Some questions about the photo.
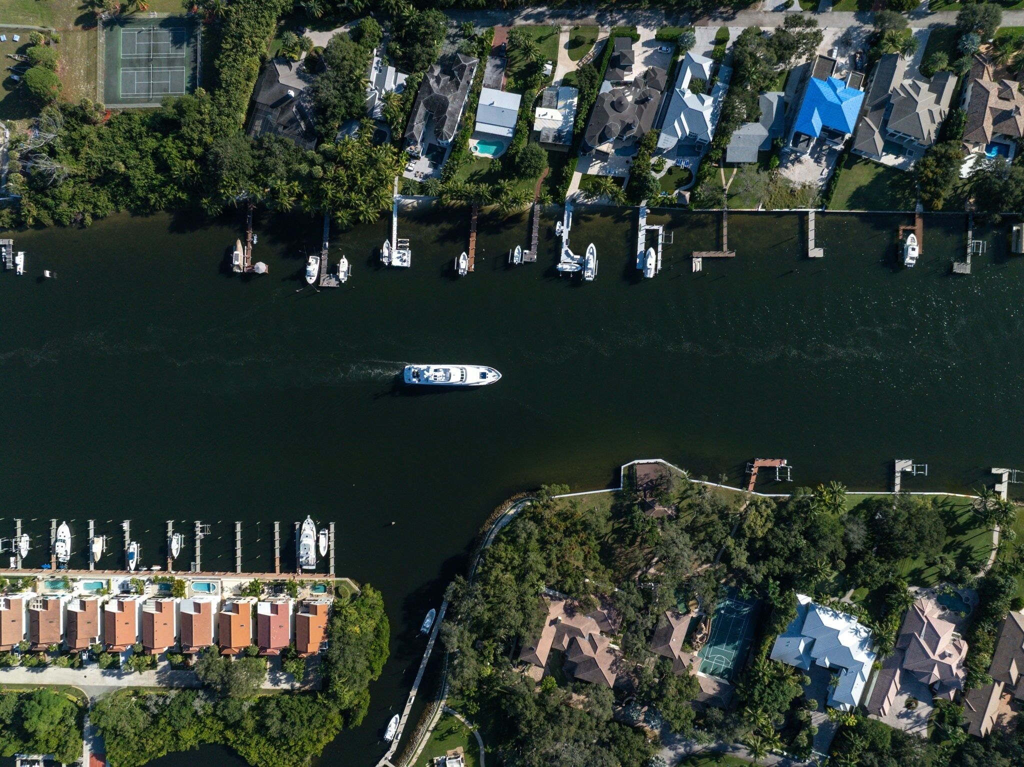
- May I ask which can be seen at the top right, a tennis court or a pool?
pool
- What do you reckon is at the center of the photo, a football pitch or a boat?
boat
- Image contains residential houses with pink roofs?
Yes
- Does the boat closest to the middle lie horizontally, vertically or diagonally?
horizontally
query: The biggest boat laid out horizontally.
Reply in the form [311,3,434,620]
[404,365,502,385]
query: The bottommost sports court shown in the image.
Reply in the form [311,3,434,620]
[698,591,758,685]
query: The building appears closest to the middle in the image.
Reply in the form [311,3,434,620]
[643,498,677,519]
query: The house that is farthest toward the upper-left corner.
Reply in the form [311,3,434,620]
[257,60,317,137]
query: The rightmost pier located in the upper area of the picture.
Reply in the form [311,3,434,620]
[951,212,975,274]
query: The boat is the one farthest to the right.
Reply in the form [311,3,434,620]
[901,232,920,267]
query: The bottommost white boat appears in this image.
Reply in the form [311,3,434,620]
[385,714,399,743]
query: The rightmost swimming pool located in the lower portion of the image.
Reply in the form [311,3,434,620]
[936,590,972,615]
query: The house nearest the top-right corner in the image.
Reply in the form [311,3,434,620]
[954,54,1024,155]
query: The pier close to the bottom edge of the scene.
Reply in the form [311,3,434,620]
[372,581,447,767]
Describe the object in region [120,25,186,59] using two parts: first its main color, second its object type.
gray tennis court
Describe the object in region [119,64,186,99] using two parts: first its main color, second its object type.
gray tennis court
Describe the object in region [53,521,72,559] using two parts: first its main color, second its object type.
white boat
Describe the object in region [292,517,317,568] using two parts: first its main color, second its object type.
white boat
